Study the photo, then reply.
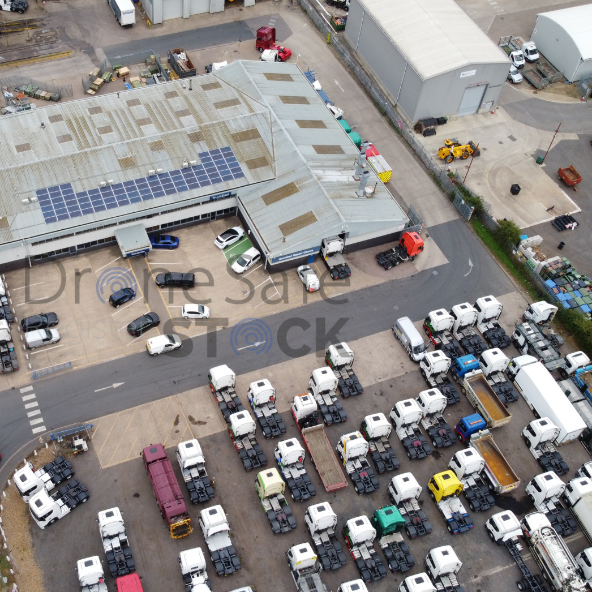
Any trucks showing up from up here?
Yes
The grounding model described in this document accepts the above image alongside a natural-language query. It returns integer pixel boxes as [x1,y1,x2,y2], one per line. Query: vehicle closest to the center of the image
[296,265,321,295]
